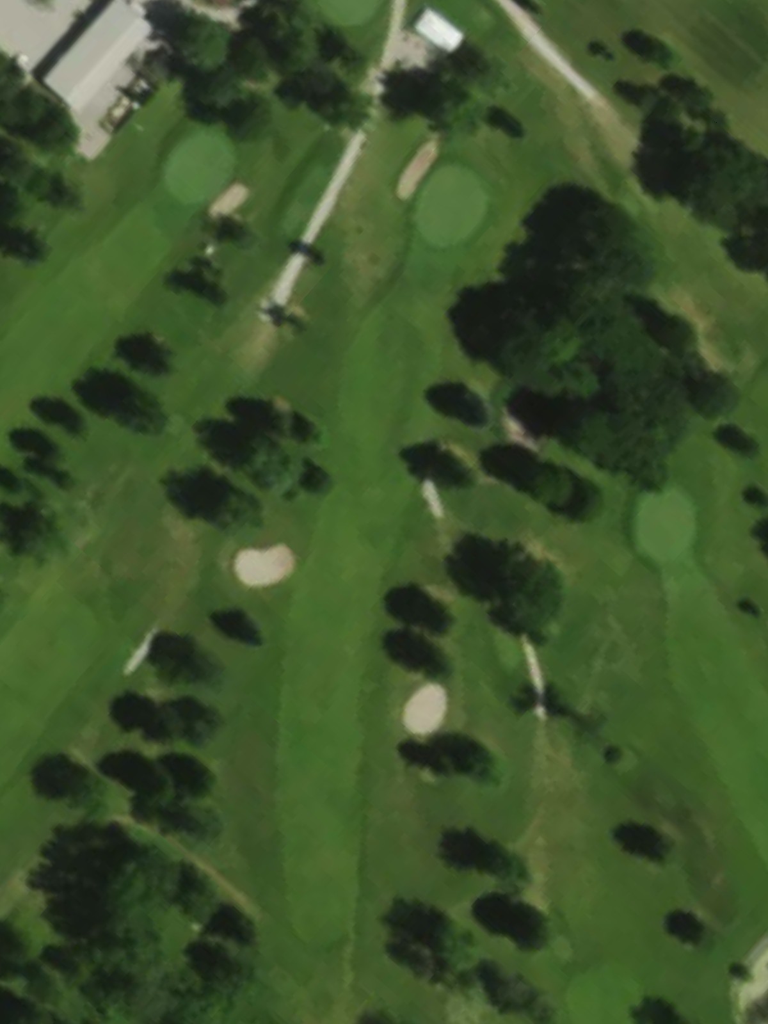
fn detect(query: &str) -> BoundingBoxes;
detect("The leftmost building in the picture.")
[40,0,151,111]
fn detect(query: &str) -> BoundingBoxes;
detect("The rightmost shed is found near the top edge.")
[414,7,465,54]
